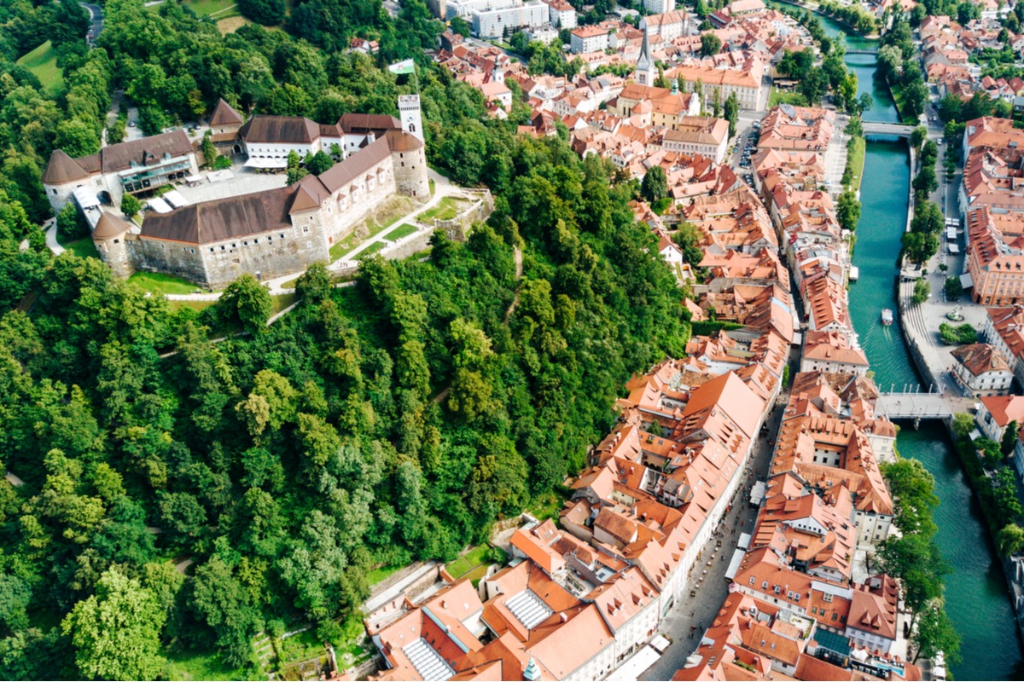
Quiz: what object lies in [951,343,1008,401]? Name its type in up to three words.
house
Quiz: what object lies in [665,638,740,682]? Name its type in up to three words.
house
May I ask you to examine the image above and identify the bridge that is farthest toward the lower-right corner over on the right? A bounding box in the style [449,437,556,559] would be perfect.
[876,381,958,432]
